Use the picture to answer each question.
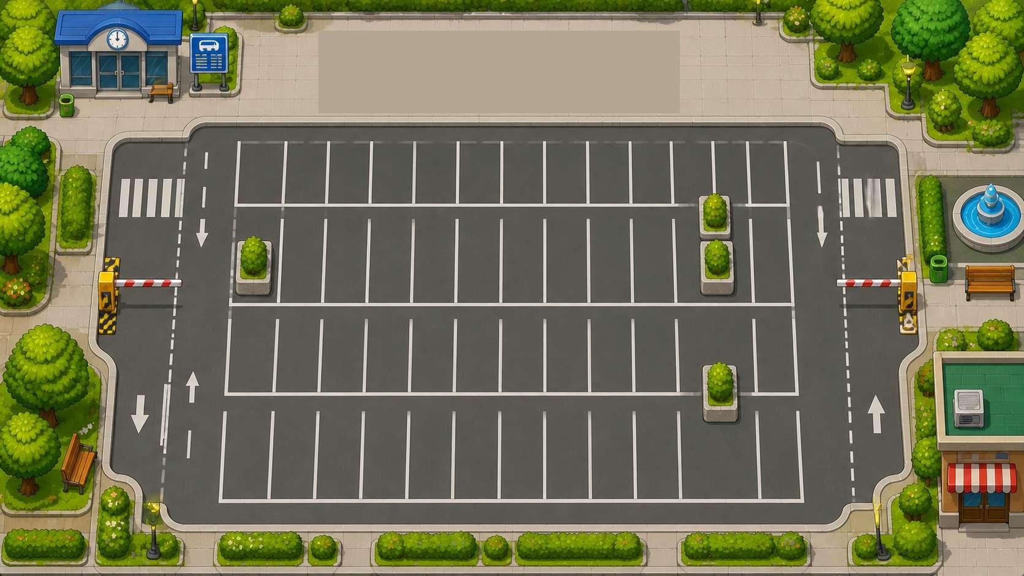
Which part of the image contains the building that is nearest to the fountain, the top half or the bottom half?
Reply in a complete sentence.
It is in the bottom half that the building that is nearest to the fountain appears.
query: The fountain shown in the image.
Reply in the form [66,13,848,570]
[954,182,1024,251]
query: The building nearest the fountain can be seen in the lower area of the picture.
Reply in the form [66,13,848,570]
[928,354,1024,534]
